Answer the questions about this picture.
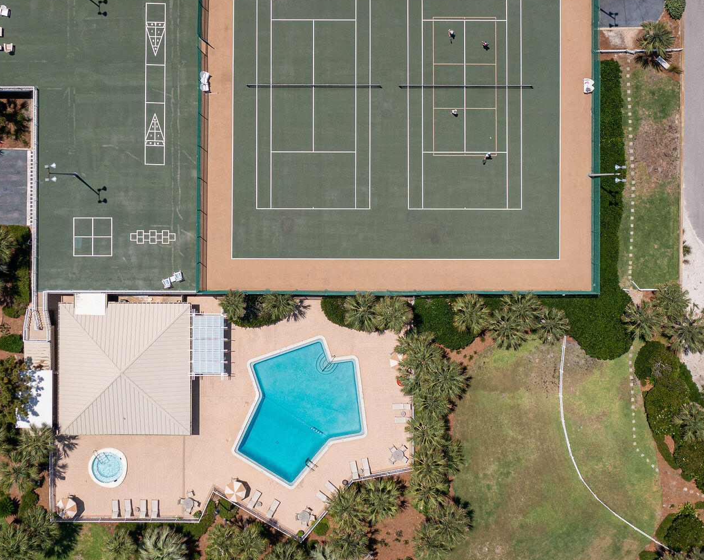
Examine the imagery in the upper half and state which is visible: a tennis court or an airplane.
tennis court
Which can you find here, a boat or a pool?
pool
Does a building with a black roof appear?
No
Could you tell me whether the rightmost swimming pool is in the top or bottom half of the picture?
bottom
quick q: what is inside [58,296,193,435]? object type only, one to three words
building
